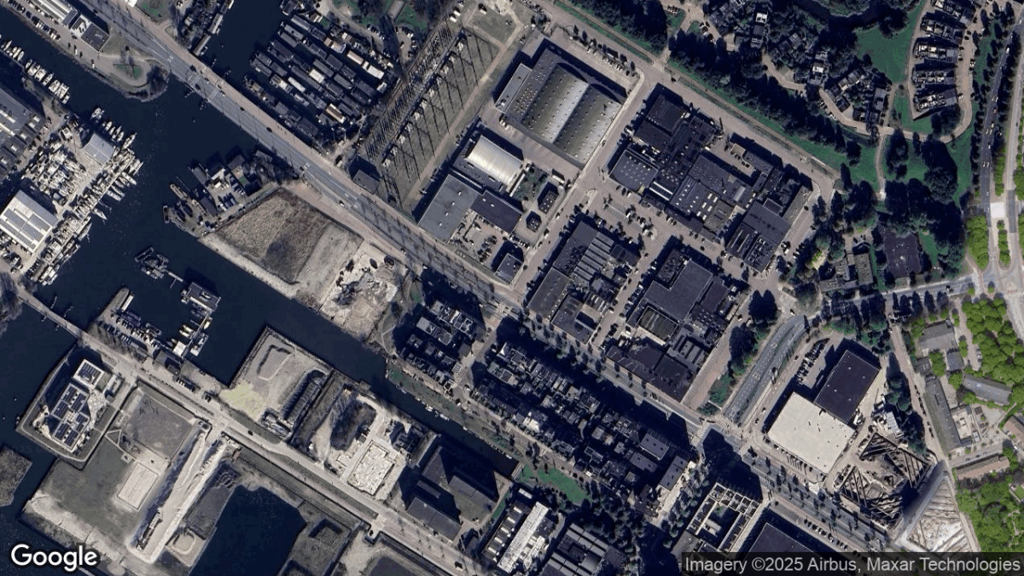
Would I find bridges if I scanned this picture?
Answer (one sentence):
Yes, a bridge can be made out from above.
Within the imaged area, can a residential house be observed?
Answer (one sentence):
Yes, this view includes a residential house.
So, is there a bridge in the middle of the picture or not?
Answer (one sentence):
No, there is no bridge in the middle of the picture.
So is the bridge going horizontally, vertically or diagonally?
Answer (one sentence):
What the image shows is the bridge lying diagonally.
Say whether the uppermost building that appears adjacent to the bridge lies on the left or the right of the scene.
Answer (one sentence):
You can find the uppermost building that appears adjacent to the bridge on the left side of the picture.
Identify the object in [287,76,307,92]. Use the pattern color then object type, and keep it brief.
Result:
white boat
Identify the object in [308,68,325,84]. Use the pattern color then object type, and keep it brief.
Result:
white boat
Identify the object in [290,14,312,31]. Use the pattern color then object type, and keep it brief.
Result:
gray boat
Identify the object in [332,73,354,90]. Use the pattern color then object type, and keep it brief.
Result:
gray boat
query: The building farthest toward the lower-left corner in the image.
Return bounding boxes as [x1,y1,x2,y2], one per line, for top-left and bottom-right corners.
[51,381,92,449]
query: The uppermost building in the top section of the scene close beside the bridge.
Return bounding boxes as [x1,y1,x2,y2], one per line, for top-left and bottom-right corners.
[0,188,60,253]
